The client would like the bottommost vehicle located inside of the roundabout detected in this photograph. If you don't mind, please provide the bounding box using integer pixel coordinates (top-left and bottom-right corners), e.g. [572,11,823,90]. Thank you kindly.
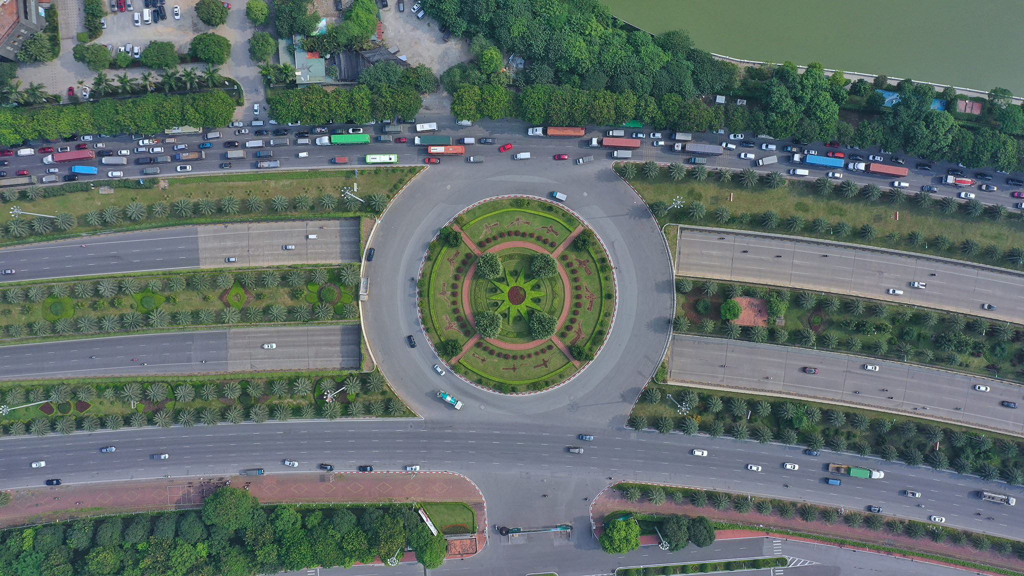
[436,389,466,410]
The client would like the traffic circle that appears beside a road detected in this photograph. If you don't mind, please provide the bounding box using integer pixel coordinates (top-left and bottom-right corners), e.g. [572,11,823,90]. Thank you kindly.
[361,160,673,425]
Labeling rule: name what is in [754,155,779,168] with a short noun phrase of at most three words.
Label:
vehicle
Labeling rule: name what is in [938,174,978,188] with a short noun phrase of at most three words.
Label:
vehicle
